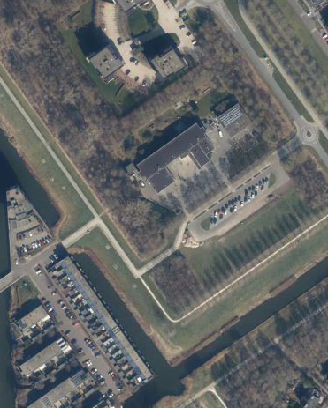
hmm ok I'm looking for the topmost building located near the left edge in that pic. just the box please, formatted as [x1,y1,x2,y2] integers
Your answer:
[6,185,32,219]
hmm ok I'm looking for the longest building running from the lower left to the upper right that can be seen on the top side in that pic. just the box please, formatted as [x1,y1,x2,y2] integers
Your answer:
[137,122,205,183]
